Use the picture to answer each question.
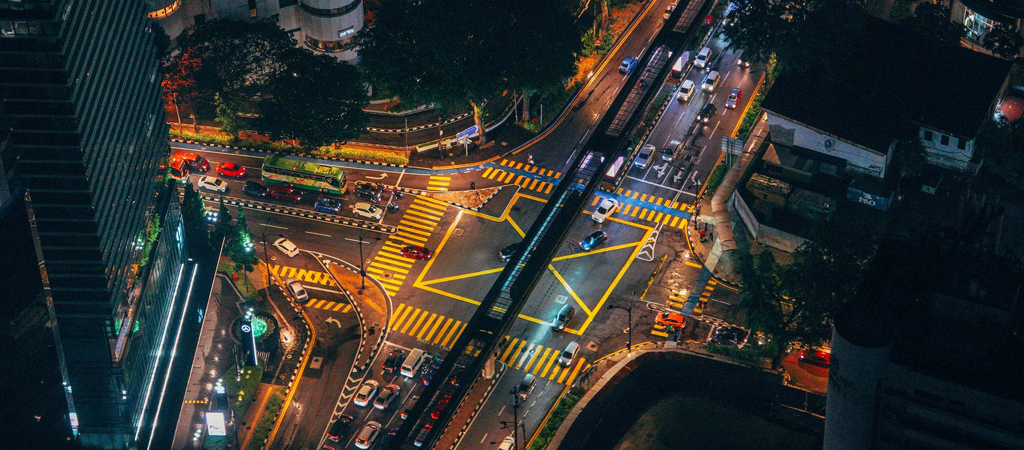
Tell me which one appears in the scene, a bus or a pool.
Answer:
bus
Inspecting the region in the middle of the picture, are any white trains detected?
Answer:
No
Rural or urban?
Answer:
urban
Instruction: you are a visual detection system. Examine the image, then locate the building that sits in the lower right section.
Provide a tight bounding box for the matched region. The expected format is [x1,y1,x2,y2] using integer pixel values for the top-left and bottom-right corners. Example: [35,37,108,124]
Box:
[819,247,1024,450]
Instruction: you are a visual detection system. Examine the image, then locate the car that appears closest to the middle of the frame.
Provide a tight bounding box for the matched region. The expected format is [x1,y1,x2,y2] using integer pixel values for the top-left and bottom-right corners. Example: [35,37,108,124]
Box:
[498,244,517,260]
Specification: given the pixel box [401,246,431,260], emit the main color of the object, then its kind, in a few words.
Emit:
red car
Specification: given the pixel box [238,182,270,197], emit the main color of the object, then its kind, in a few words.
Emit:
black vehicle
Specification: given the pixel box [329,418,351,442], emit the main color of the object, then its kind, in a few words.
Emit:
black car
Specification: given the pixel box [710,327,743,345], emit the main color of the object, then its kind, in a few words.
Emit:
black car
